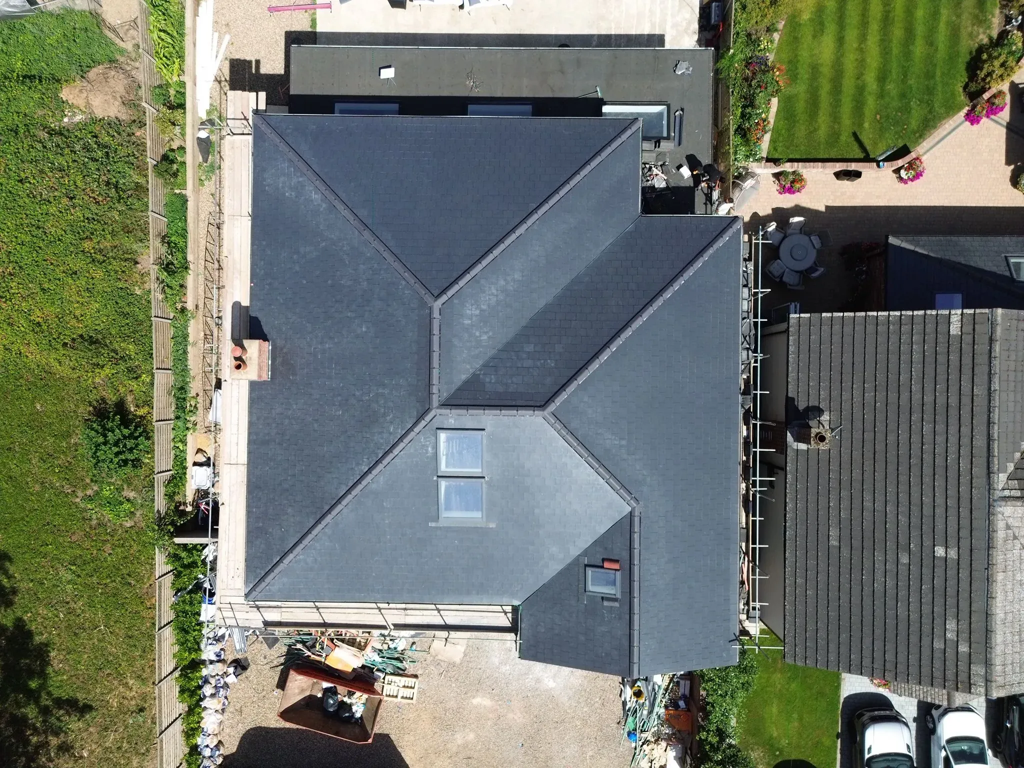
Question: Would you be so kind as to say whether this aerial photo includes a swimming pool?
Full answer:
No, there appears to be no swimming pool in this shot.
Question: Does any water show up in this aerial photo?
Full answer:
No, water can't be seen anywhere here.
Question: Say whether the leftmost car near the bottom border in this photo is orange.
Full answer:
No, from above the leftmost car near the bottom border looks white.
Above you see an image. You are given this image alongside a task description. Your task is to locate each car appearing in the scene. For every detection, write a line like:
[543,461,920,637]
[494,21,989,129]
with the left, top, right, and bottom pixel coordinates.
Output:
[922,696,998,768]
[851,712,925,768]
[995,686,1024,768]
